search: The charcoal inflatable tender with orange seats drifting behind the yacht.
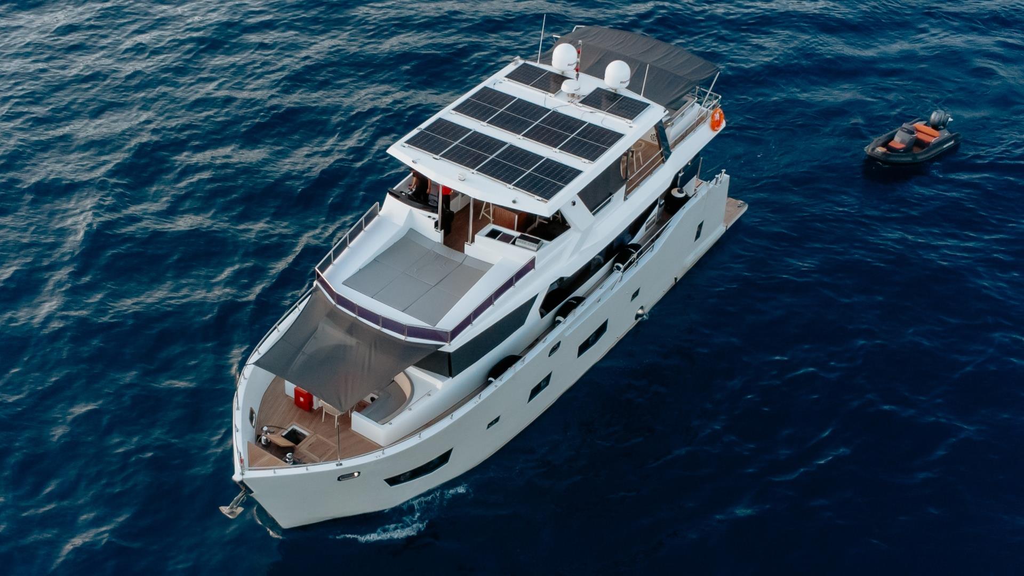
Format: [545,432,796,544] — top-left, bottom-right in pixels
[866,107,969,160]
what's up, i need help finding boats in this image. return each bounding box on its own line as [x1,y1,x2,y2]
[220,16,744,526]
[866,107,969,160]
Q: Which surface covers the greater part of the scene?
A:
water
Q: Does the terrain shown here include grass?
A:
No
